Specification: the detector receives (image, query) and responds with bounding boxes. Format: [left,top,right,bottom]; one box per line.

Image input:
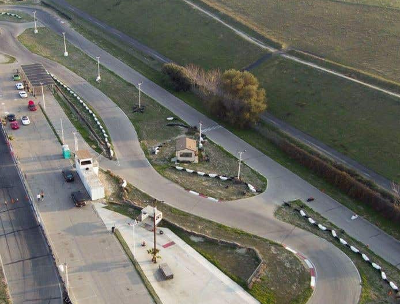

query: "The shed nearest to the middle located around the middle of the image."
[173,138,199,164]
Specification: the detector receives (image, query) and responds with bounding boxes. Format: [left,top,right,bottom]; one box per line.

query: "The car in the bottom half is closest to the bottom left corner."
[70,189,86,208]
